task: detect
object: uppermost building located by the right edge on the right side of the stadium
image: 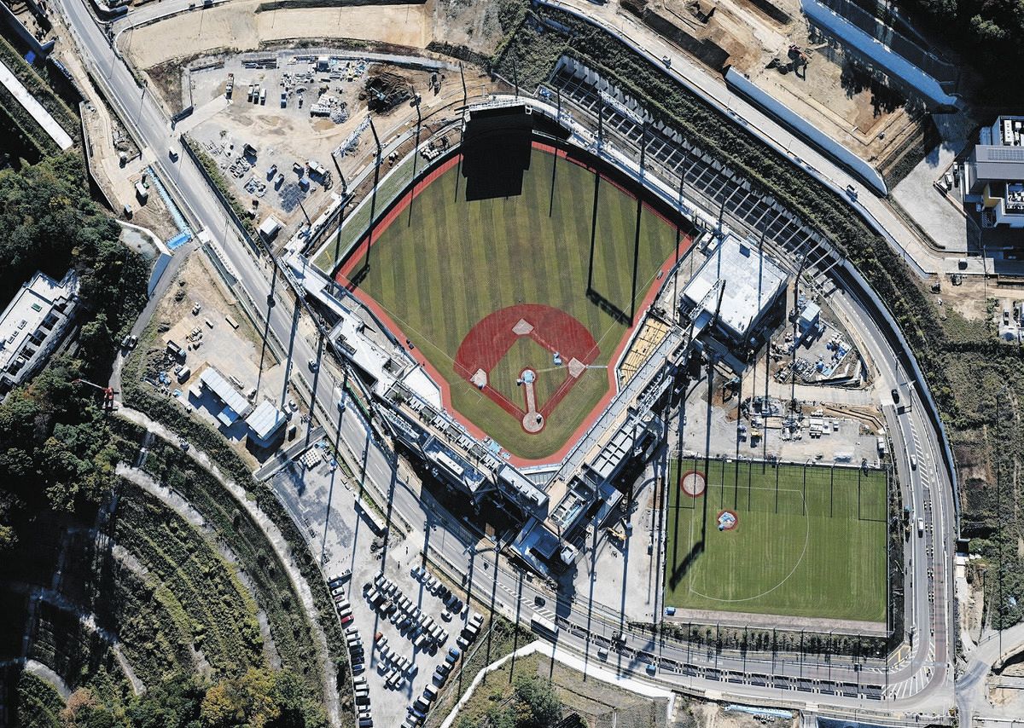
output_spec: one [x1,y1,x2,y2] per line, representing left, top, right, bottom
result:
[970,116,1024,223]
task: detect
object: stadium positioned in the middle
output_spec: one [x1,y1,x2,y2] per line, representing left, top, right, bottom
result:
[283,94,748,586]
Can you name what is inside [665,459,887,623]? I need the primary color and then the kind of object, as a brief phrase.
green sports field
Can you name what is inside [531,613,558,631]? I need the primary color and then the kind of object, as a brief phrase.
white vehicle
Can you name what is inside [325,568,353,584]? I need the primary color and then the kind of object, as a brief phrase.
white vehicle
